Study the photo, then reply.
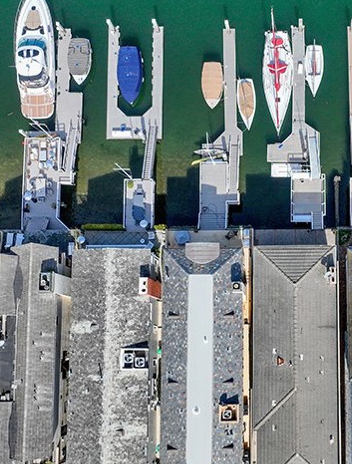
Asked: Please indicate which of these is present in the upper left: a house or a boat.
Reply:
boat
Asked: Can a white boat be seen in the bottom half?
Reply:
No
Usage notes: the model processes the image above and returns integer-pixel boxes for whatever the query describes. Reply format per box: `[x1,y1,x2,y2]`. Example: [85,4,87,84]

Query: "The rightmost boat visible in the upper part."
[302,43,323,97]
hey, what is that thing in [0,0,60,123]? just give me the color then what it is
white boat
